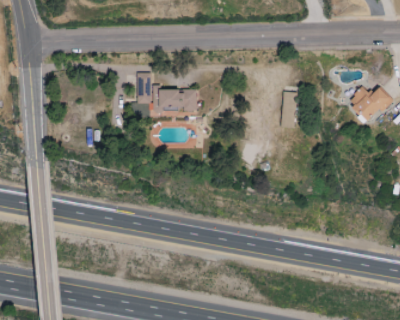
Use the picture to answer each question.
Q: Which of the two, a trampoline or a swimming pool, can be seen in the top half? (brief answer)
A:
swimming pool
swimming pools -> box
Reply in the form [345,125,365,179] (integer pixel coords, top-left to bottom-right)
[147,114,198,148]
[328,64,370,108]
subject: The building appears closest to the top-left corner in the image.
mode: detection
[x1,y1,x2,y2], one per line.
[138,72,152,102]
